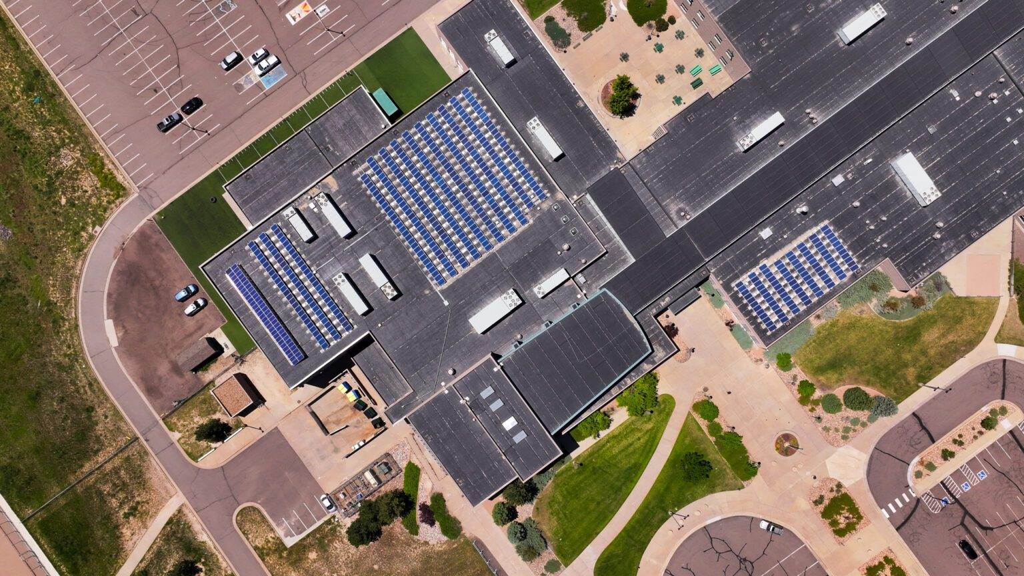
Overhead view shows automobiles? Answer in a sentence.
Yes, an automobile can be made out from above.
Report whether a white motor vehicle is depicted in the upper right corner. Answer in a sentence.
No, no white motor vehicle is visible in the upper right corner.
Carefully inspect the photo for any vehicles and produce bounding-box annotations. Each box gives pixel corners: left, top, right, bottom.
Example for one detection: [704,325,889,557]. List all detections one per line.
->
[155,112,183,134]
[958,538,977,560]
[255,54,281,77]
[222,52,244,71]
[758,520,784,535]
[182,96,204,116]
[176,284,198,301]
[249,47,271,65]
[319,491,337,511]
[185,297,207,315]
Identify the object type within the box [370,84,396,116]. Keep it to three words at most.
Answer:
shed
